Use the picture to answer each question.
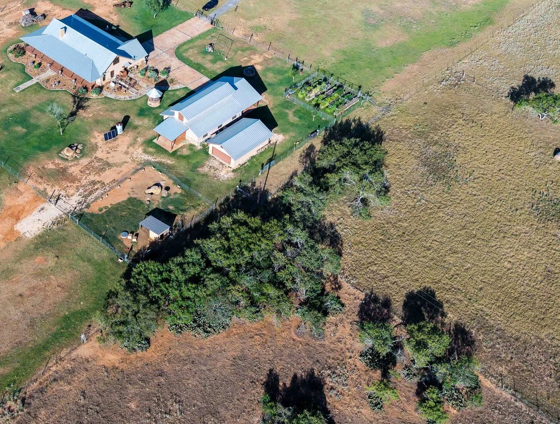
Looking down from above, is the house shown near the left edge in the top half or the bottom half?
top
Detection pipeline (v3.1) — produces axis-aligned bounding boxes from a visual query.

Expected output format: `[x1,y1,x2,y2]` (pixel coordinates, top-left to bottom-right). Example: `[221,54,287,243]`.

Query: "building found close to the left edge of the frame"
[21,13,149,92]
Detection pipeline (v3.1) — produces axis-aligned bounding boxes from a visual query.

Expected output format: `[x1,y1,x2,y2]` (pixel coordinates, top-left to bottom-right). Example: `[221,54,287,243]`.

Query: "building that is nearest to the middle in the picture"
[207,118,273,168]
